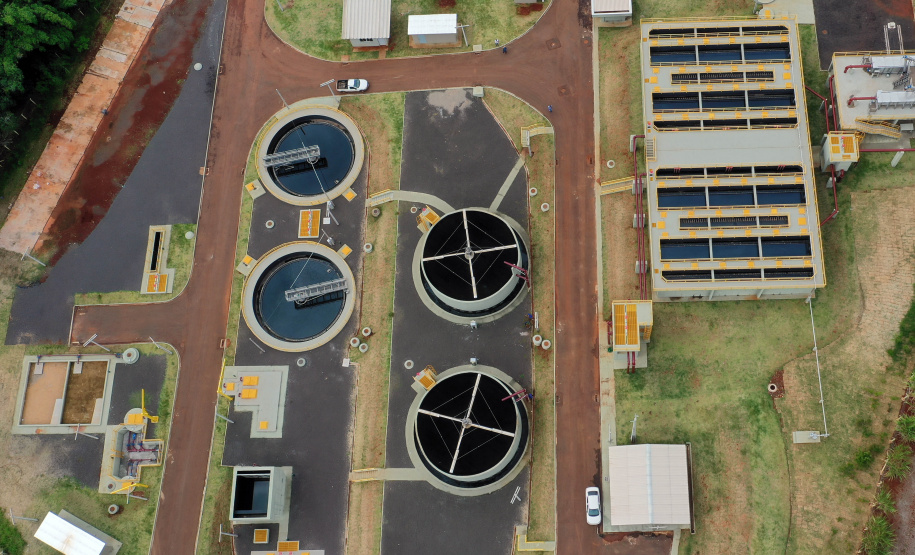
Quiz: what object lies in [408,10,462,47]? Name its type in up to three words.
shed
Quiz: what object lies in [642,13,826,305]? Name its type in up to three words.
storage tank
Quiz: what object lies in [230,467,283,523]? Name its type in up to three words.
storage tank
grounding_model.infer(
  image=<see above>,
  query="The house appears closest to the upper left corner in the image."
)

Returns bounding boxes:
[342,0,391,54]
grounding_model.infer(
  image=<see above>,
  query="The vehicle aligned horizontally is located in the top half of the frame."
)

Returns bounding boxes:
[335,77,370,94]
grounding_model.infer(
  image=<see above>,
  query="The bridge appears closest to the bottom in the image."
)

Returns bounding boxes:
[288,280,349,307]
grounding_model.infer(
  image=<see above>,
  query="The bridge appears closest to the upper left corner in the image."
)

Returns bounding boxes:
[259,144,319,168]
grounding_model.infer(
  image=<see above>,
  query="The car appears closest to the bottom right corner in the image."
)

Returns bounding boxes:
[584,487,603,526]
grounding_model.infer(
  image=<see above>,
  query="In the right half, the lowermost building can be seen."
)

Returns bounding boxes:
[603,444,701,555]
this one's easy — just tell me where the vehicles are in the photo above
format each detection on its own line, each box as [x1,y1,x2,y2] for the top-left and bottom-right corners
[335,77,370,94]
[584,487,603,526]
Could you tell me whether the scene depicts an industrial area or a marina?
industrial area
